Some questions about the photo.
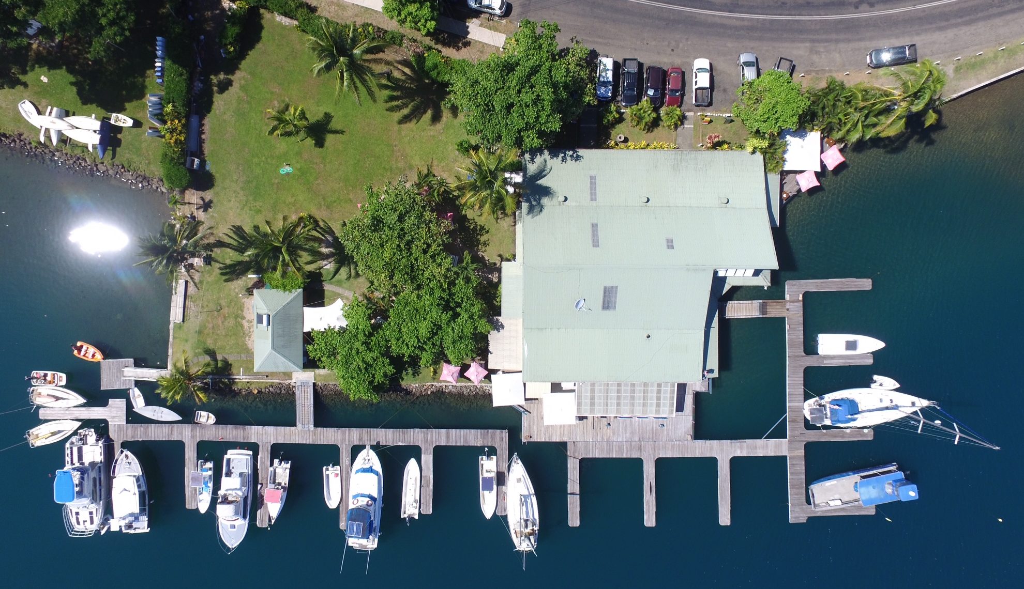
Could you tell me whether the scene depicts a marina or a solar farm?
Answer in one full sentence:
The picture captures a marina.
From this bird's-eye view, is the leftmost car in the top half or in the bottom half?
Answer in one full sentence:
The leftmost car sits in the top half of the picture.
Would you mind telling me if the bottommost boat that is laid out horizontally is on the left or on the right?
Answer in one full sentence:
The bottommost boat that is laid out horizontally is on the right side of the image.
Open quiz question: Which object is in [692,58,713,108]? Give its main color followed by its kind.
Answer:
white truck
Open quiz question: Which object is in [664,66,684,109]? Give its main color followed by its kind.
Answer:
red car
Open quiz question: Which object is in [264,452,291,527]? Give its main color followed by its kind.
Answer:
white boat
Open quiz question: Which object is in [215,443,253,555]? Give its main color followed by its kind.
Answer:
white boat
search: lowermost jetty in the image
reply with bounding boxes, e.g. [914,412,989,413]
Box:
[109,424,509,529]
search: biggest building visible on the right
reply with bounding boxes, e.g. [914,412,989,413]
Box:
[488,149,780,383]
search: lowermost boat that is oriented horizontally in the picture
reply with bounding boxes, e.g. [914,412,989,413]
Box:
[807,464,918,512]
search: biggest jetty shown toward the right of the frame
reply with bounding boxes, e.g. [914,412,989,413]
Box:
[561,274,875,526]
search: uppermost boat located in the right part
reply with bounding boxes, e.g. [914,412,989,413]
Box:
[812,333,886,355]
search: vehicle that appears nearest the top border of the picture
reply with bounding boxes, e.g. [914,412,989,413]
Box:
[463,0,510,20]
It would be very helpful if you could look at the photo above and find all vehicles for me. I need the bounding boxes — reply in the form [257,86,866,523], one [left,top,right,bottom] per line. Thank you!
[664,66,684,109]
[864,44,919,70]
[773,56,795,86]
[594,53,615,102]
[737,52,760,103]
[463,0,510,20]
[692,58,713,108]
[643,64,664,111]
[618,57,640,108]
